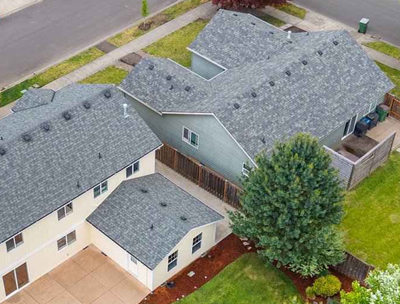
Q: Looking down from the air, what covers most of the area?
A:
buildings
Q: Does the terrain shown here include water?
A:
No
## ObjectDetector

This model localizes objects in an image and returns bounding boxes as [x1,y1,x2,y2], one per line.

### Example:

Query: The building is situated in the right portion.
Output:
[115,10,396,199]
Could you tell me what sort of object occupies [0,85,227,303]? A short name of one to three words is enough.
house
